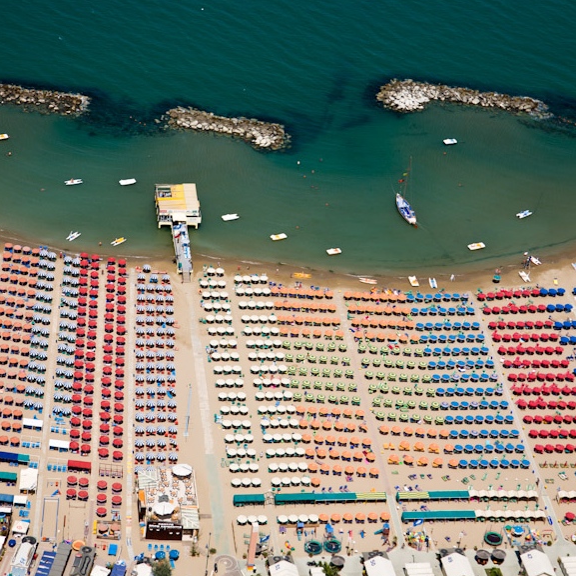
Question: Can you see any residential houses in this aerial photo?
Yes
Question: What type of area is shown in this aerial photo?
beach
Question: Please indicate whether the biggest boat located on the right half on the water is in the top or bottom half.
top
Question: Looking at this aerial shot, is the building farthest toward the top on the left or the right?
left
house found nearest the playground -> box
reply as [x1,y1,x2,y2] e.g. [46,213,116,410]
[520,551,556,576]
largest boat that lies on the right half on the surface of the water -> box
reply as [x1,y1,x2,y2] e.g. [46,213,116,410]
[395,167,418,227]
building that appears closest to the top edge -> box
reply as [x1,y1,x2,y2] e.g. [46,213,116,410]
[155,185,200,230]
